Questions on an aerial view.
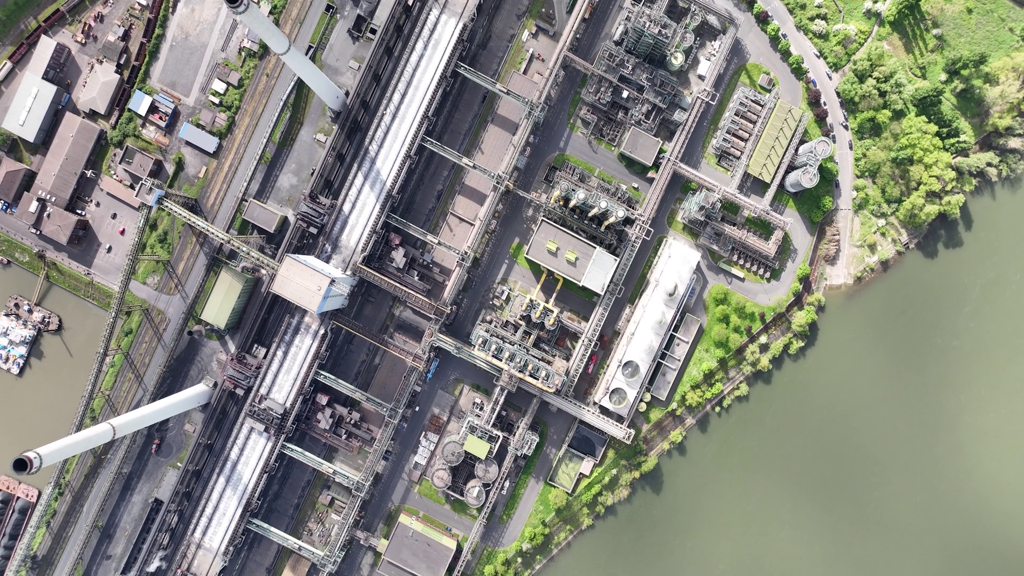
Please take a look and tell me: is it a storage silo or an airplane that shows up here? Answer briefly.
storage silo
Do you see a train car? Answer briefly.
Yes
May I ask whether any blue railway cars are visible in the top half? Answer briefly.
No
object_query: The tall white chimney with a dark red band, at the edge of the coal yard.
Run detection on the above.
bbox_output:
[10,383,219,475]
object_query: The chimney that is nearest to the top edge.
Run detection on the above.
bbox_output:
[223,0,350,113]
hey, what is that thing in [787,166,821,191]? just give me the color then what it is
white silo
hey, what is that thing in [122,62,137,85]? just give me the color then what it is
black rail car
